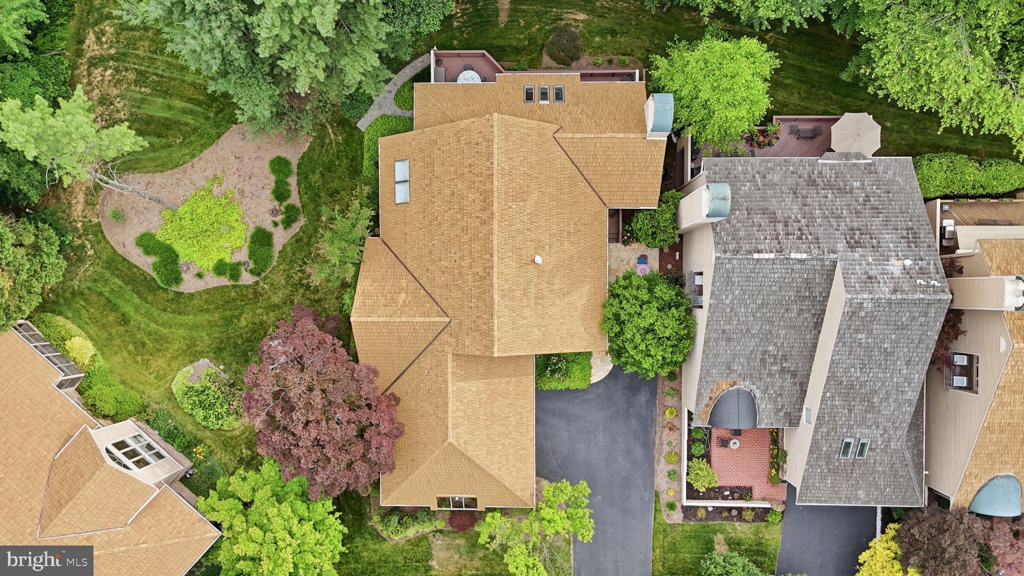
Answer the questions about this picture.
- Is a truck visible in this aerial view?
No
